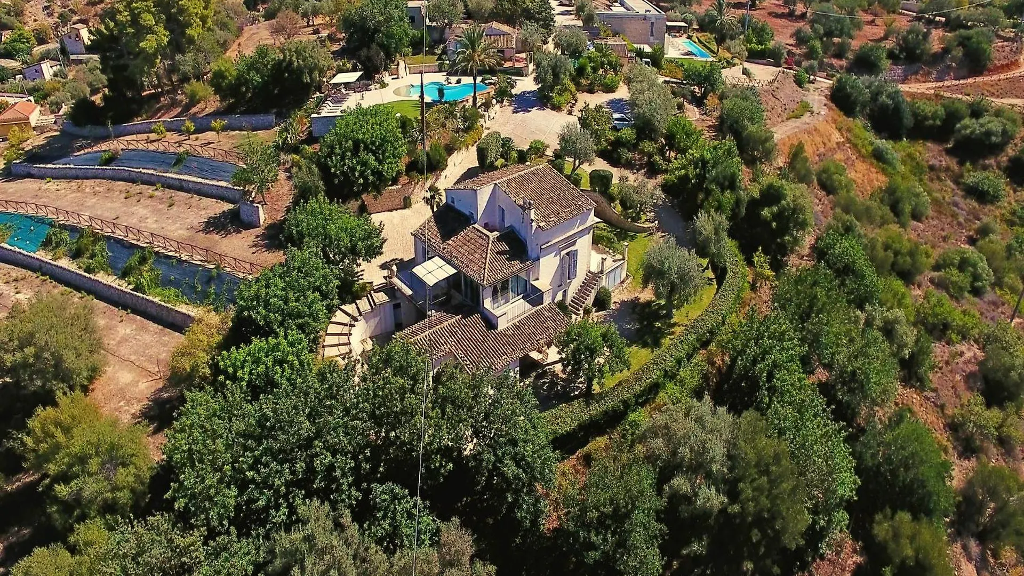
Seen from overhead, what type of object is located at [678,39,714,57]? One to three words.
swimming pool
